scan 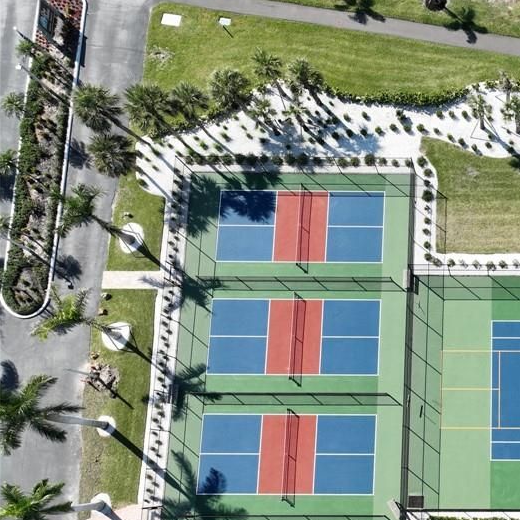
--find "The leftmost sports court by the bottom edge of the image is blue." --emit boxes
[197,414,376,495]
